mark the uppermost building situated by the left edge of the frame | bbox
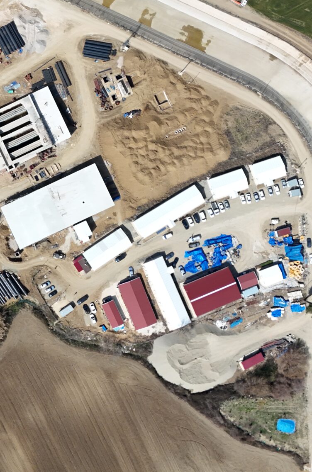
[0,86,72,172]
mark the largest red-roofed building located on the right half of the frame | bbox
[181,267,242,316]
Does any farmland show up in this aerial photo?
Yes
